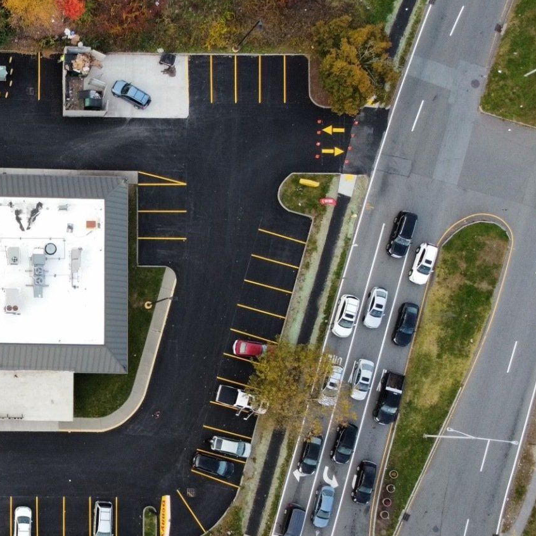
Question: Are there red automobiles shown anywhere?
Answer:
Yes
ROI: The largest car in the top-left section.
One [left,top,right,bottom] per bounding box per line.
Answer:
[109,81,152,113]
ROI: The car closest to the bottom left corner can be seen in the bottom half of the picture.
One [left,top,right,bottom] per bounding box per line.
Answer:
[13,504,33,536]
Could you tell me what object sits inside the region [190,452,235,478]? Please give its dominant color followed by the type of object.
black car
